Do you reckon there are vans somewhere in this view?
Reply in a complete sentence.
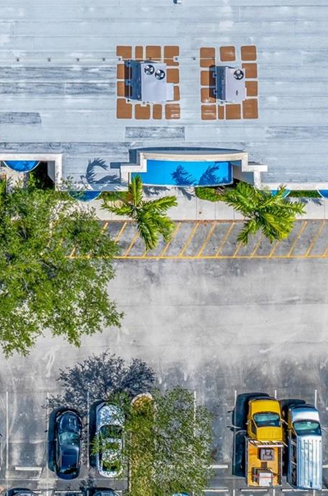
Yes, a van is visible in the scene.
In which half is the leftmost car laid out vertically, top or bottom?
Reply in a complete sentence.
The leftmost car laid out vertically is in the bottom half of the image.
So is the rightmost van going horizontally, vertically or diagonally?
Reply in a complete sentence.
In this picture, the rightmost van is oriented vertically.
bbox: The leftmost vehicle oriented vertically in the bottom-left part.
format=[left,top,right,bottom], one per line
[48,408,82,480]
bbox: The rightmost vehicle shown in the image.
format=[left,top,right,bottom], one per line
[283,403,325,494]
